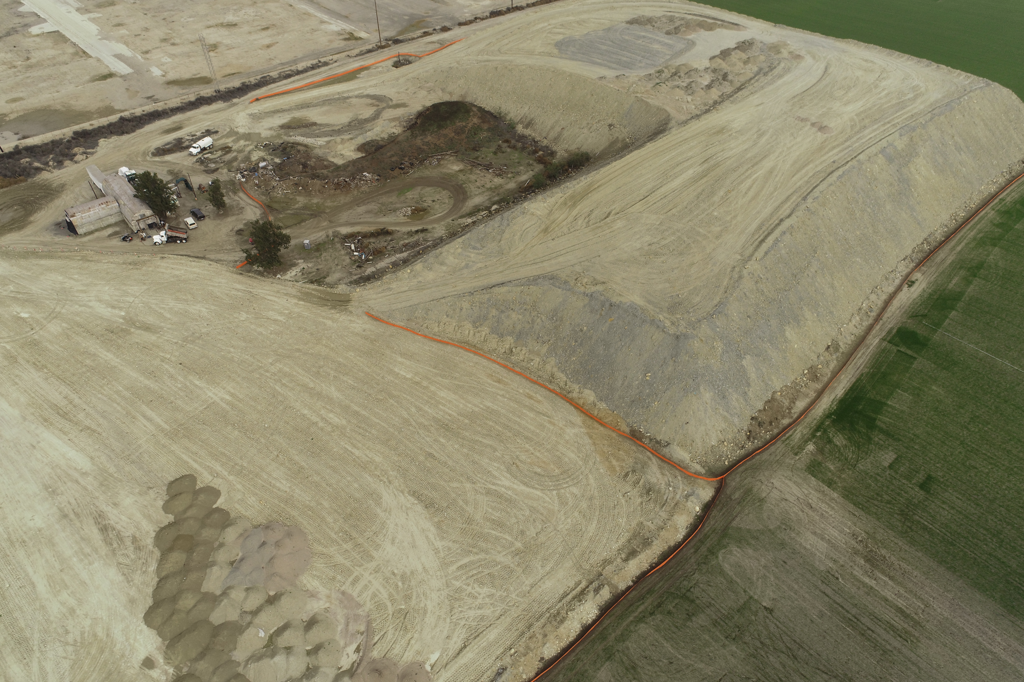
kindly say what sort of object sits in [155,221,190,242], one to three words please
truck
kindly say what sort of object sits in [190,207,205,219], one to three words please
vehicle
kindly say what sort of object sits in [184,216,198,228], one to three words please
vehicle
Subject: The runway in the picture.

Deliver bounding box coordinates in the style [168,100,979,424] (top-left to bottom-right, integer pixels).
[18,0,172,77]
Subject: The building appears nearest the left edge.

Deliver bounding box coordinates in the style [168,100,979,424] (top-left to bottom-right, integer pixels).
[65,197,121,235]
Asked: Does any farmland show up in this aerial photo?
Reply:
Yes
